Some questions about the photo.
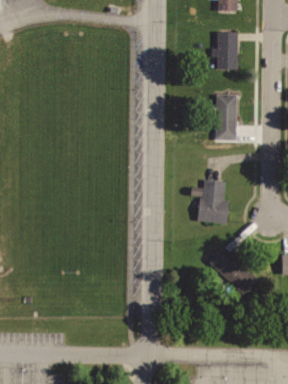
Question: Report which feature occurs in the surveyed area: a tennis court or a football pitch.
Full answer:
Of the two, only a football pitch appears.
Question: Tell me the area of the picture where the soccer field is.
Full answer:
The soccer field is located in the left region of the scene.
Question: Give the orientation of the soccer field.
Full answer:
The soccer field has been laid out up and down relative to the frame.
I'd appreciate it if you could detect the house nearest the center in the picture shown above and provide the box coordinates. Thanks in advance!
[198,181,229,224]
